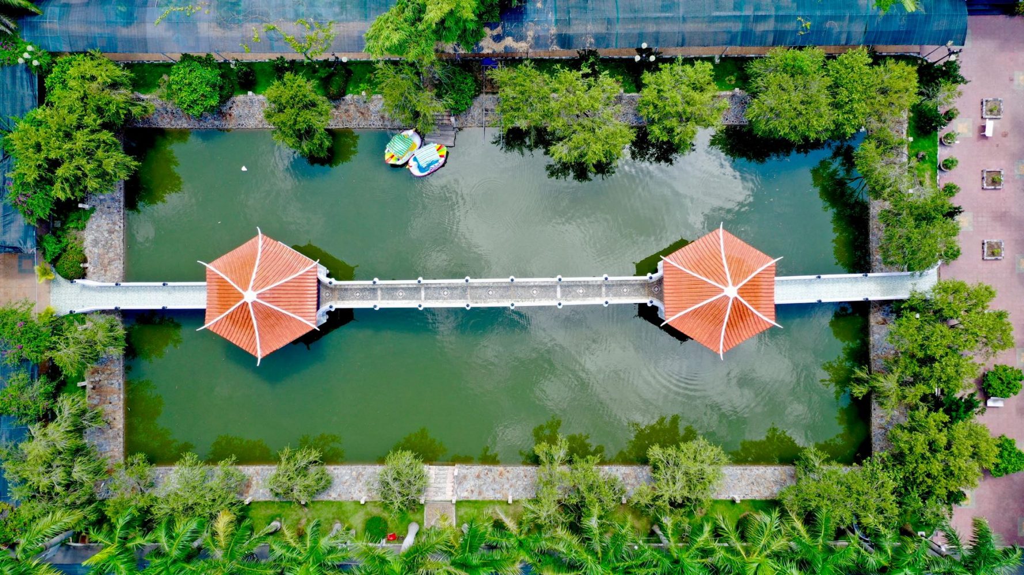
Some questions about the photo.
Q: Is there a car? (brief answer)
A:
No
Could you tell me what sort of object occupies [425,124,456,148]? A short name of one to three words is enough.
pier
